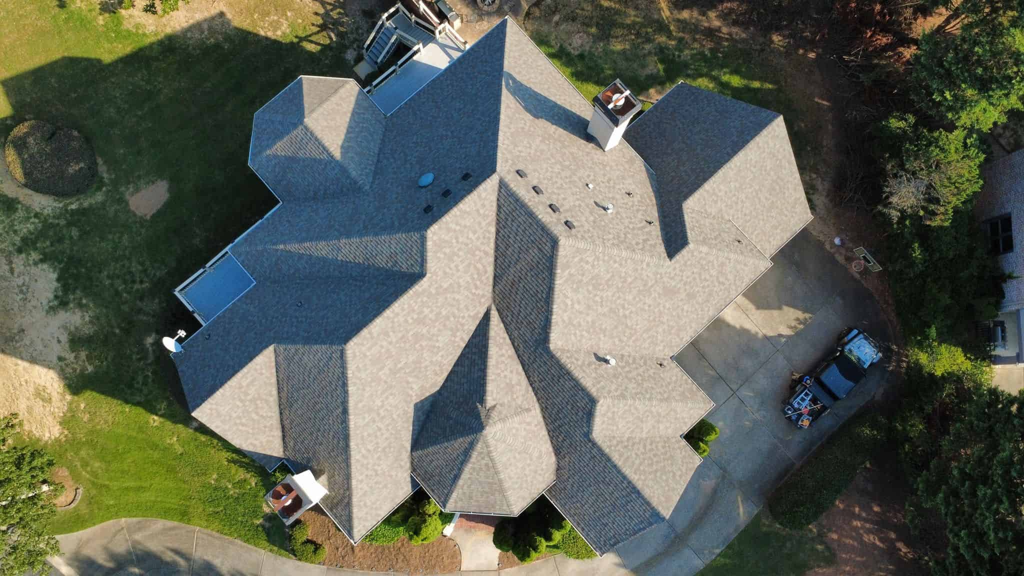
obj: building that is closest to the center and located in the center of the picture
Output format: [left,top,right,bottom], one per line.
[168,13,815,560]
